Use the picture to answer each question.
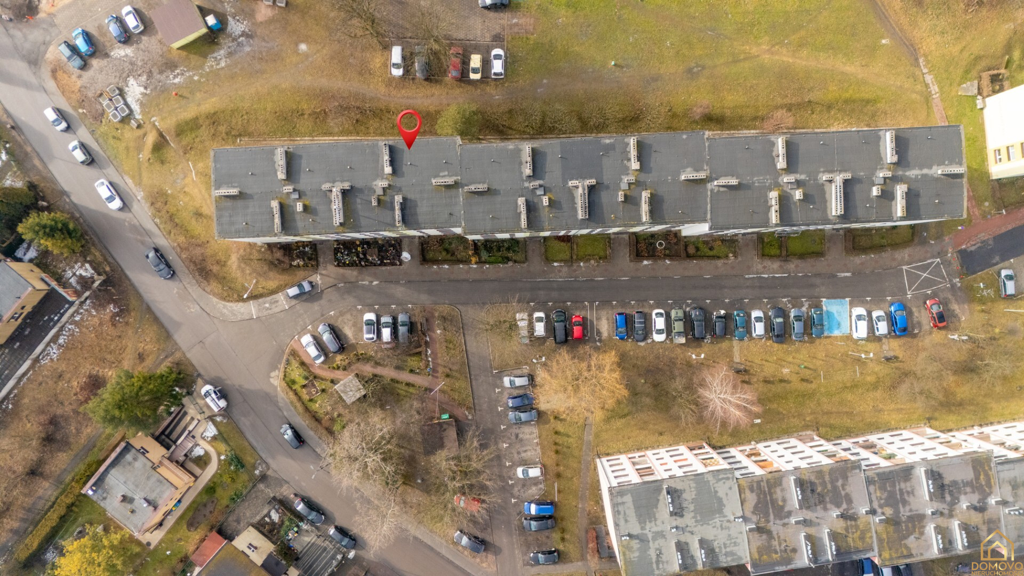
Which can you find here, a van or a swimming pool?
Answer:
van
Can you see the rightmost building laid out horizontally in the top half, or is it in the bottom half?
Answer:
bottom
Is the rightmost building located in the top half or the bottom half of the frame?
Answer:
top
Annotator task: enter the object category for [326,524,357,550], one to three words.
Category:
car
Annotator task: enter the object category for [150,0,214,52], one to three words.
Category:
building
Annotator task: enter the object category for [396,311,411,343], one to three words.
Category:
car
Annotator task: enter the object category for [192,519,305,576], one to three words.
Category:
house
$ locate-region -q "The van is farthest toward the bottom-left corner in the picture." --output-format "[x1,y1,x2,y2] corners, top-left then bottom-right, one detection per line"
[200,383,229,415]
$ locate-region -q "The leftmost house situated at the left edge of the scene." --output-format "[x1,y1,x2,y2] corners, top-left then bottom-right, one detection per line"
[0,260,53,335]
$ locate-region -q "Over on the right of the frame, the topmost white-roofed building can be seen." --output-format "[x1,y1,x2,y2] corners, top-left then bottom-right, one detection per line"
[982,84,1024,179]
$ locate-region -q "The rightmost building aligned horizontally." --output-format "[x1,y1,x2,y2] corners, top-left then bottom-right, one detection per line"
[595,421,1024,576]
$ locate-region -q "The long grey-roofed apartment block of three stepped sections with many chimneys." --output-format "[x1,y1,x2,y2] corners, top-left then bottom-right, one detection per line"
[212,125,966,248]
